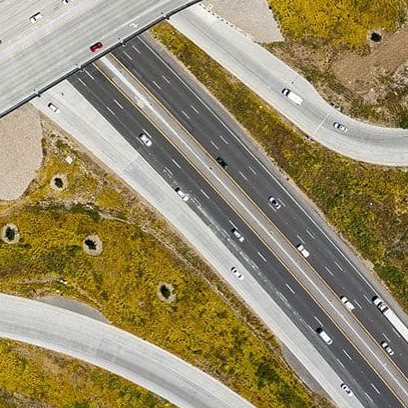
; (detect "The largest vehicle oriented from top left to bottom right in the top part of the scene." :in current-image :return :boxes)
[282,88,303,106]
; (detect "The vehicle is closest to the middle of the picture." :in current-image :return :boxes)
[175,188,190,202]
